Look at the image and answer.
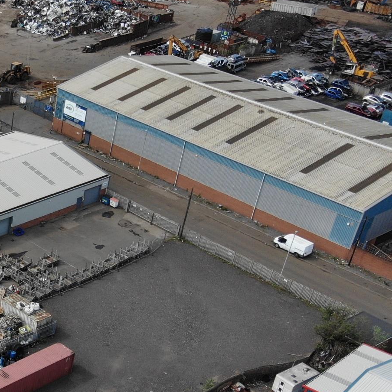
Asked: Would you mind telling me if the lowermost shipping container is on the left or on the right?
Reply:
left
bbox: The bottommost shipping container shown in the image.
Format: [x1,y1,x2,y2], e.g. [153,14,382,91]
[0,342,75,392]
